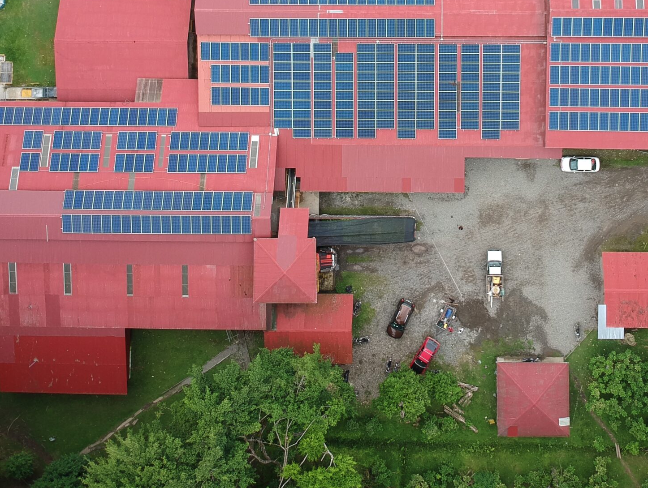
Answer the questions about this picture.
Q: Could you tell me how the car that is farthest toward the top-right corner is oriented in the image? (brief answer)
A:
from side to side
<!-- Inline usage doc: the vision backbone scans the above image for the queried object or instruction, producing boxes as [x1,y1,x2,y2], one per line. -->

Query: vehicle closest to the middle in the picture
[316,247,339,274]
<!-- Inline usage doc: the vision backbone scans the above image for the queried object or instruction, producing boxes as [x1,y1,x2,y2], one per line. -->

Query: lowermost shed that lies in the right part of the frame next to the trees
[497,358,571,438]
